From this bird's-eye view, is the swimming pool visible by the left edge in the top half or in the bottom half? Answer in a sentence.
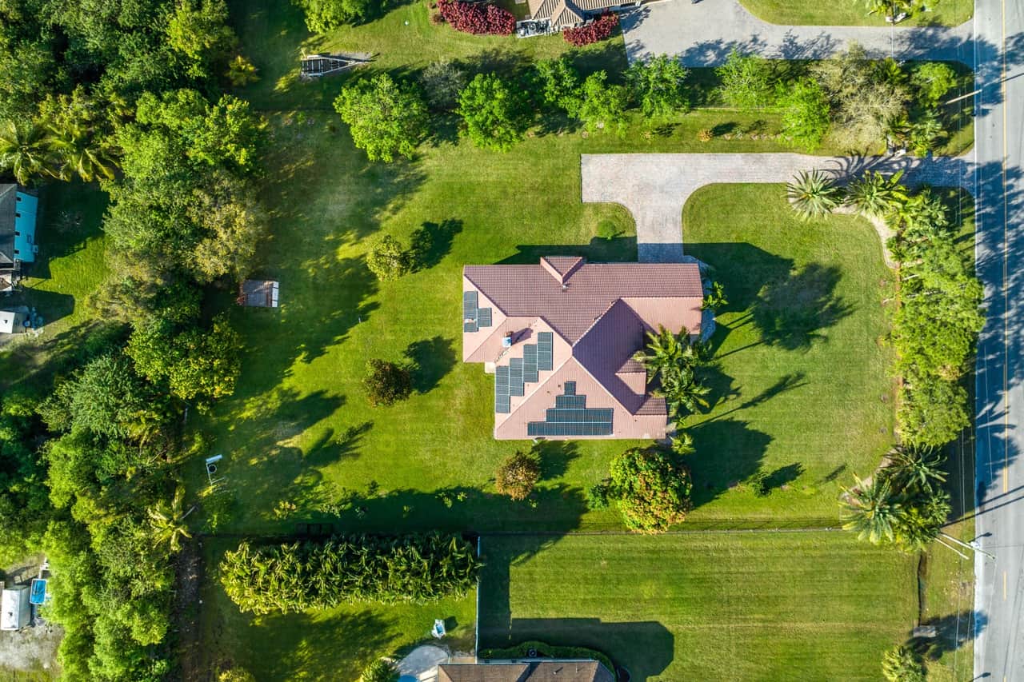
The swimming pool visible by the left edge is in the bottom half of the image.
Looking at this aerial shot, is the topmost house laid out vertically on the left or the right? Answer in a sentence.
You can find the topmost house laid out vertically on the left side of the picture.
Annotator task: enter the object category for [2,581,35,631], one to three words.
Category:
building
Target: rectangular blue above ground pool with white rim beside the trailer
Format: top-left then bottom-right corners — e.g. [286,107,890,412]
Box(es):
[31,575,53,605]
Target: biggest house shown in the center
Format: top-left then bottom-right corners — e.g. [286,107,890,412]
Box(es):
[463,256,703,444]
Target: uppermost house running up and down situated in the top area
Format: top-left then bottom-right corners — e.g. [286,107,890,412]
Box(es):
[0,182,38,271]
